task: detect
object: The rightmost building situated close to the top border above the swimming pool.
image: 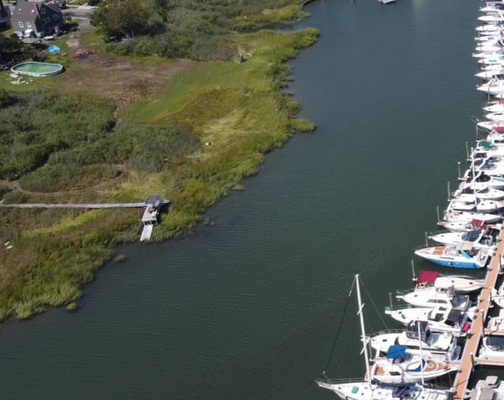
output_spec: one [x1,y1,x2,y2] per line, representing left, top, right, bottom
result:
[10,0,67,38]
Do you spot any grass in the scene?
Yes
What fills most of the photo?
water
